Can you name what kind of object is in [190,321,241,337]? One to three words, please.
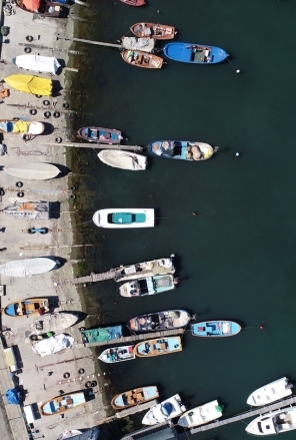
boat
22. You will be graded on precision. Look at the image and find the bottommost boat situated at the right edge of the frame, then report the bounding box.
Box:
[245,403,296,435]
